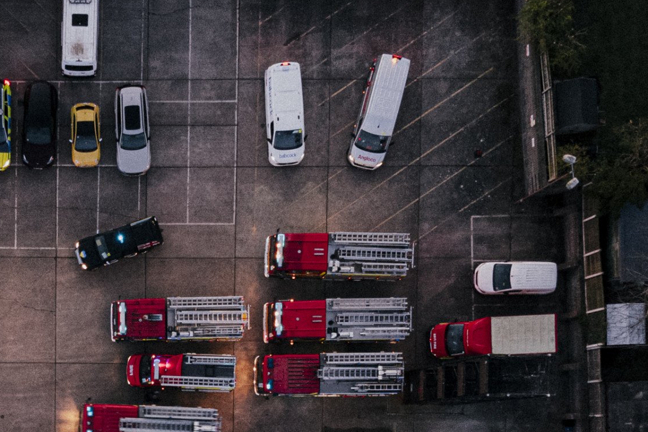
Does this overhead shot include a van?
Yes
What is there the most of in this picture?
paved ground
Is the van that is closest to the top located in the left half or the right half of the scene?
left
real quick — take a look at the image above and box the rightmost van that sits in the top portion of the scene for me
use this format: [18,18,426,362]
[353,50,417,172]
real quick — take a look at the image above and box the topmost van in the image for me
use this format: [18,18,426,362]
[62,0,98,75]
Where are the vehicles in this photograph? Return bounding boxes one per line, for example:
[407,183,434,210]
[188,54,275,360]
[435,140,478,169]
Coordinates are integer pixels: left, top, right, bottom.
[76,395,220,432]
[19,80,59,170]
[73,215,165,271]
[68,104,104,168]
[62,0,98,75]
[259,293,410,349]
[112,85,153,175]
[265,58,307,167]
[249,347,405,403]
[423,312,564,357]
[353,50,417,172]
[126,352,237,390]
[0,80,14,171]
[473,258,562,297]
[260,227,413,283]
[109,292,247,348]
